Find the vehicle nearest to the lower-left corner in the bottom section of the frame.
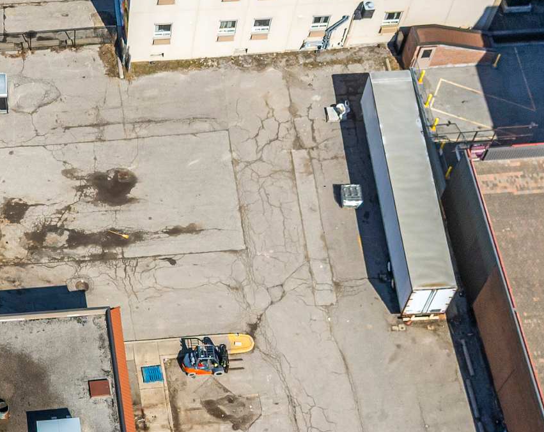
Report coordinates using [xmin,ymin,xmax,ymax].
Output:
[188,340,253,378]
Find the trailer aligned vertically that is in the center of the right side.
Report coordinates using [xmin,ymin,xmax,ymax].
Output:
[361,71,458,320]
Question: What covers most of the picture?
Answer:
paved ground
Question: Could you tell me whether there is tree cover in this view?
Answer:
No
